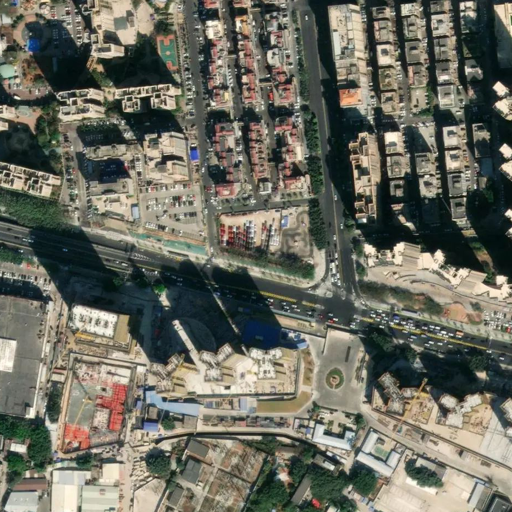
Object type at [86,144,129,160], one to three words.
building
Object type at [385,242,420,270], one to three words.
building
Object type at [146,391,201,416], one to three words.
shed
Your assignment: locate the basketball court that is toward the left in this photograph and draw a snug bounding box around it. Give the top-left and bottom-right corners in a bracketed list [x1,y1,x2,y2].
[158,35,178,70]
